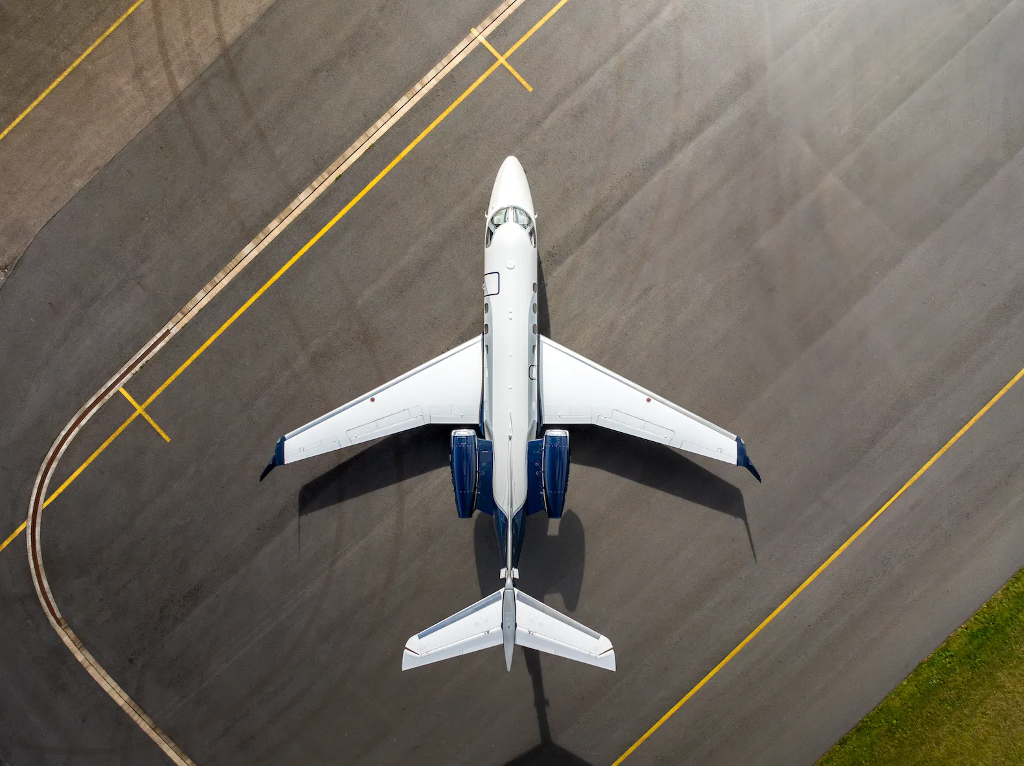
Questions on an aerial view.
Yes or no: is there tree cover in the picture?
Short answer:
No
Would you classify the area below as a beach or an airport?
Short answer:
airport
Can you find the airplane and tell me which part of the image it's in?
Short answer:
center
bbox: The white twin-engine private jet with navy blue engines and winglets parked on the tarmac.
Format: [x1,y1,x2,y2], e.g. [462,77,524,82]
[259,156,761,672]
